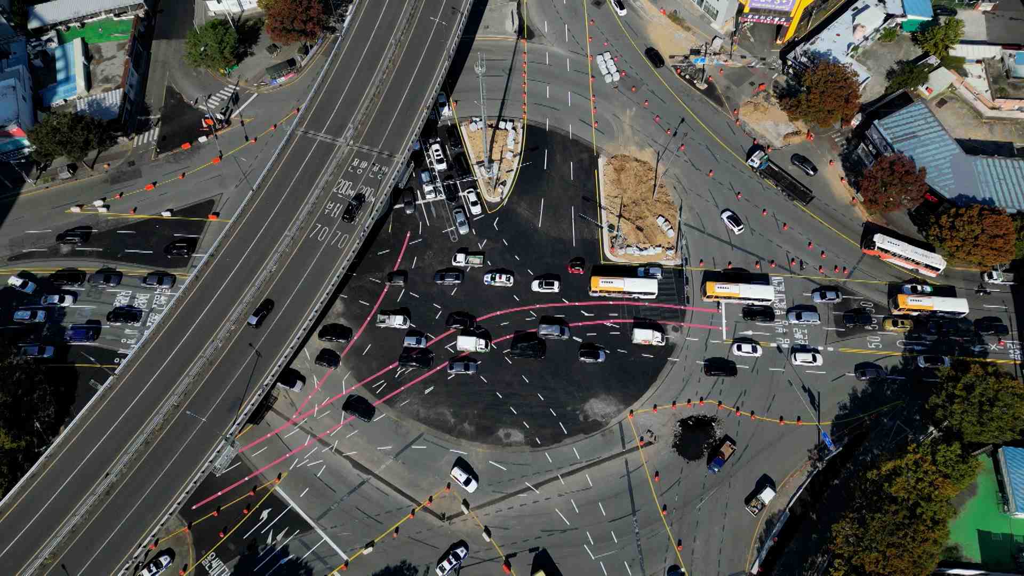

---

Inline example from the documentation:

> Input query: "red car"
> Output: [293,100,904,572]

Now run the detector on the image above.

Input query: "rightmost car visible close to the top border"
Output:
[933,4,959,17]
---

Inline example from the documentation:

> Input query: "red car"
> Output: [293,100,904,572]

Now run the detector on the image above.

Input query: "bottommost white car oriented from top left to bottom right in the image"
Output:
[449,466,480,496]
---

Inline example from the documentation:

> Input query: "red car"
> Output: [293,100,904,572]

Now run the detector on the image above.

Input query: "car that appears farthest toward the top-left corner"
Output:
[57,233,88,247]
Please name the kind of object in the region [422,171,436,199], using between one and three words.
vehicle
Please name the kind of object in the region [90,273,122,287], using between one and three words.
car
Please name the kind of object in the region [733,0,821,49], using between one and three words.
building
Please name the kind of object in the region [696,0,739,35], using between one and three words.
building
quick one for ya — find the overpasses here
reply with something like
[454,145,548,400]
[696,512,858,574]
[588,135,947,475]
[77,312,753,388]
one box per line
[0,0,475,576]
